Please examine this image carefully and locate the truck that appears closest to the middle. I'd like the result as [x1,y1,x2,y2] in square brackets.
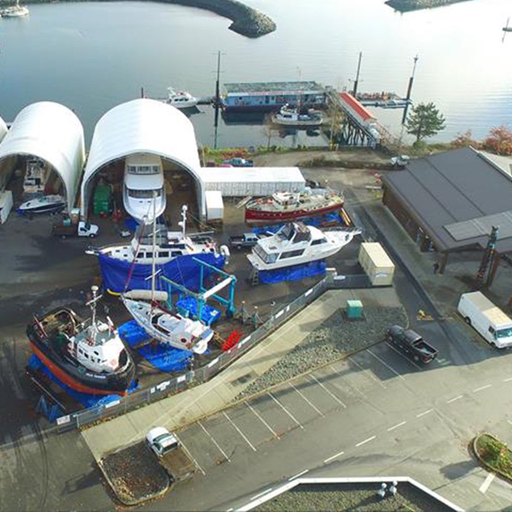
[228,230,268,253]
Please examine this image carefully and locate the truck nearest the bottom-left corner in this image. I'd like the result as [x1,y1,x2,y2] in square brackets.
[144,428,193,479]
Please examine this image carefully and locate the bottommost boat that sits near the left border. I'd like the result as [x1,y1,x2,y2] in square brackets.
[19,294,142,392]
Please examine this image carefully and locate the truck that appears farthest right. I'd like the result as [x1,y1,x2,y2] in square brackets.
[459,294,512,358]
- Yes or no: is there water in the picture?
Yes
